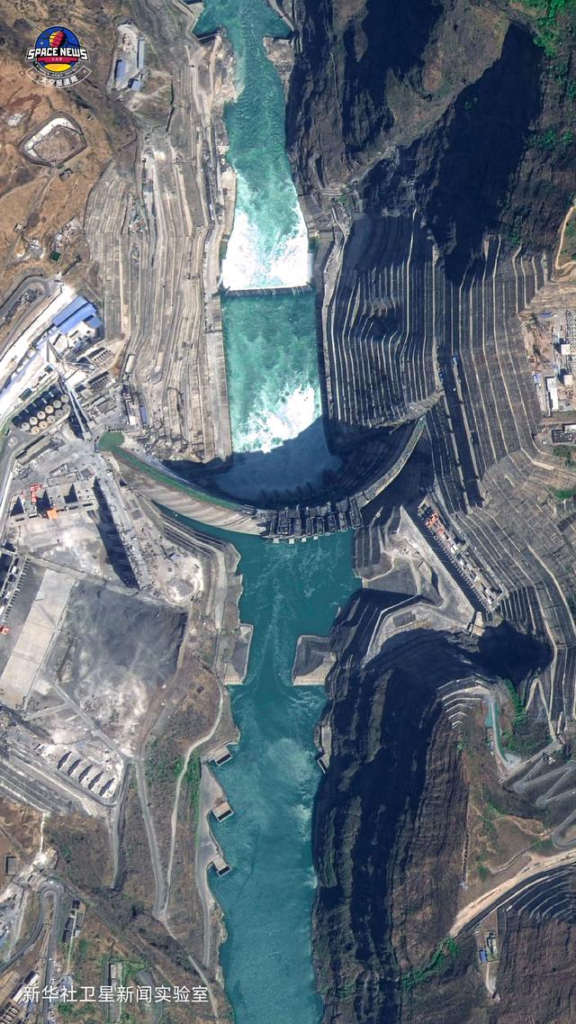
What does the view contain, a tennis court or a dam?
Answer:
dam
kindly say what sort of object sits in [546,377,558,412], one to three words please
building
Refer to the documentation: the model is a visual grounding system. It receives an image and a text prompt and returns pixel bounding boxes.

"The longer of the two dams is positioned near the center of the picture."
[98,414,429,545]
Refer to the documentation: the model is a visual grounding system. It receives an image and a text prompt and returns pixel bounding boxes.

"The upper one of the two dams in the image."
[220,280,316,295]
